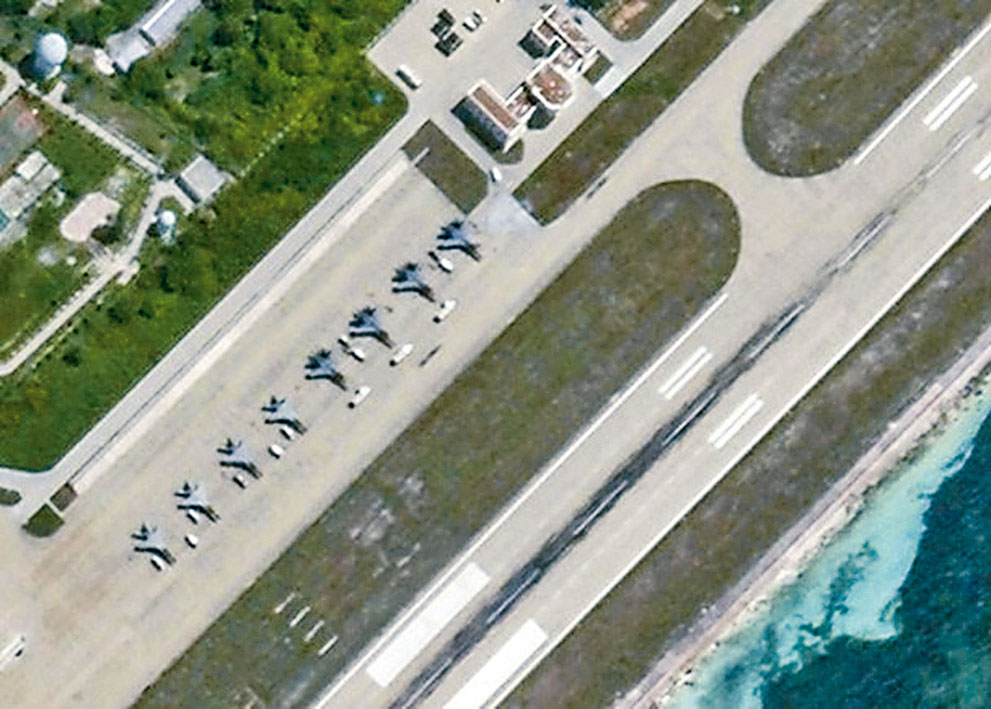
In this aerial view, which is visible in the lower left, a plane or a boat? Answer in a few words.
plane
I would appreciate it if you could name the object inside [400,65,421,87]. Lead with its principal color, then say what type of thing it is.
white truck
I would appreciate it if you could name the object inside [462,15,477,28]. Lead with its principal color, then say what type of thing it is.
white vehicle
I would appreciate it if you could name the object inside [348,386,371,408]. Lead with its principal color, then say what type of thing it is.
white truck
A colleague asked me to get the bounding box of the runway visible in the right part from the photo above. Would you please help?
[315,20,991,709]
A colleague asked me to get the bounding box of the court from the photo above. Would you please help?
[0,96,49,172]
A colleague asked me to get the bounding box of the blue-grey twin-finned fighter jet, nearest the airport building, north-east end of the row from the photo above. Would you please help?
[435,214,481,255]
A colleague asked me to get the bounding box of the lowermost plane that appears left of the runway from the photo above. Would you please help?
[125,515,173,558]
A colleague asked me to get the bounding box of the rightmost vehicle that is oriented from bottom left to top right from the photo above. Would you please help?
[587,178,606,197]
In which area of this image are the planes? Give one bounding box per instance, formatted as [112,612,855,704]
[213,429,260,472]
[301,341,348,385]
[389,253,436,296]
[170,473,219,517]
[435,214,481,255]
[125,515,173,558]
[346,299,394,341]
[257,386,305,429]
